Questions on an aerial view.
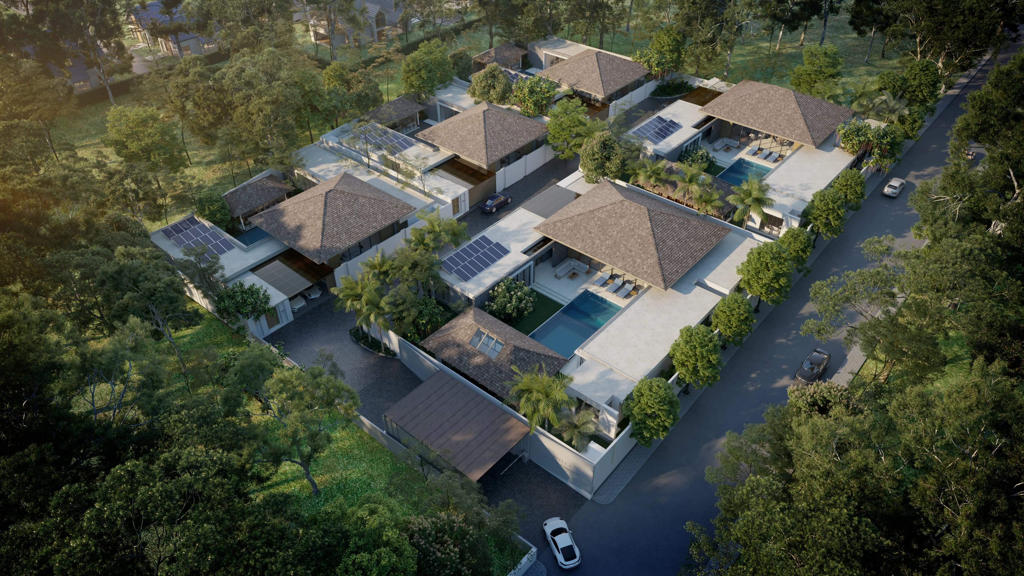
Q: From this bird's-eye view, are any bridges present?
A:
No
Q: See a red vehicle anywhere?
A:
No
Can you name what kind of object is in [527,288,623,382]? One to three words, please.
swimming pool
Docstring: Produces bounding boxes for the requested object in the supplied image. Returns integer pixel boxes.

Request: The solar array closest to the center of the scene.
[439,235,510,283]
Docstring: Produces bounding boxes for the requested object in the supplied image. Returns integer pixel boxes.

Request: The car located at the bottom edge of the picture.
[545,517,579,572]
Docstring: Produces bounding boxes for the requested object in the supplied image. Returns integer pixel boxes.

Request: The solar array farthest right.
[632,115,684,144]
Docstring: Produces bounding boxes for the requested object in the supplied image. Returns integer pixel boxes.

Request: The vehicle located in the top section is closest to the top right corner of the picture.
[883,179,905,197]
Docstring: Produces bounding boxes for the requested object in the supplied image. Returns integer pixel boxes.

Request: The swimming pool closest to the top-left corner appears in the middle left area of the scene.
[235,226,266,244]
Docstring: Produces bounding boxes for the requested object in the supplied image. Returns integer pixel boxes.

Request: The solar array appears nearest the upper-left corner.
[159,216,235,261]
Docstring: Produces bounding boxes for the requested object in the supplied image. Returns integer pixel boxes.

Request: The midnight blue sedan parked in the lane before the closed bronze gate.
[481,192,511,212]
